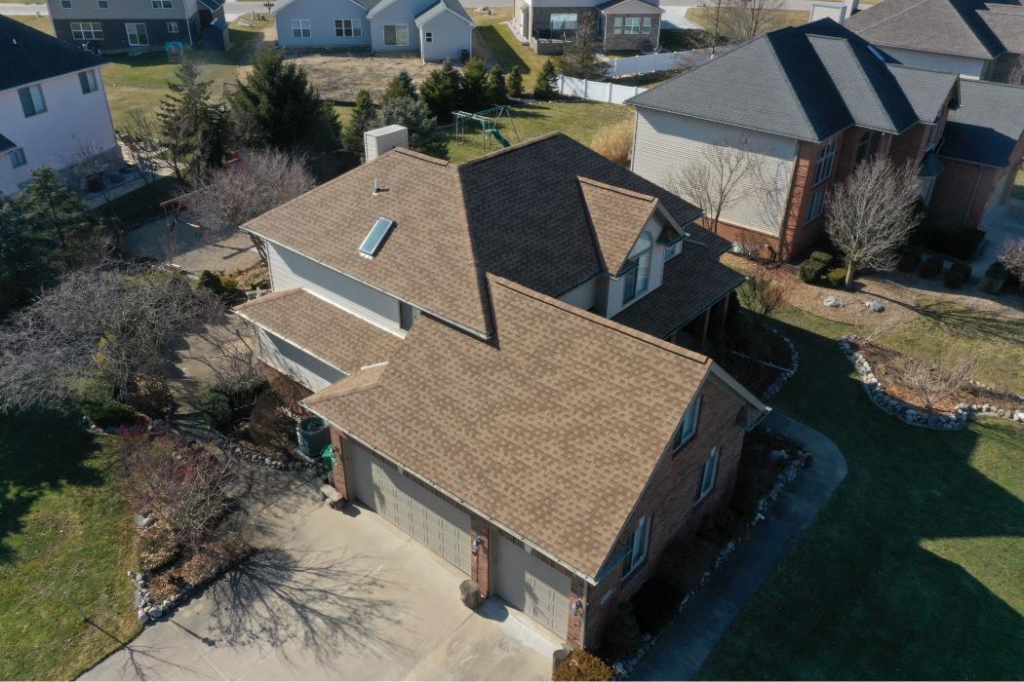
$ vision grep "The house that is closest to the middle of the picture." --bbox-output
[231,124,772,652]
